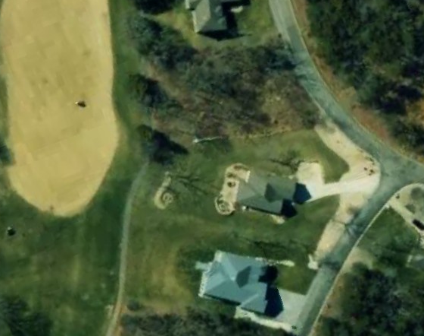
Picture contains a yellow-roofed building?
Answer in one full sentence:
No, the frame has no yellow-roofed building in it.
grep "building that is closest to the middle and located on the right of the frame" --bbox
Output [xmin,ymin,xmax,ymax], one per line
[235,171,300,217]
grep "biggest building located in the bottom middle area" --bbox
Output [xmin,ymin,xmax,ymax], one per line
[201,251,272,318]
